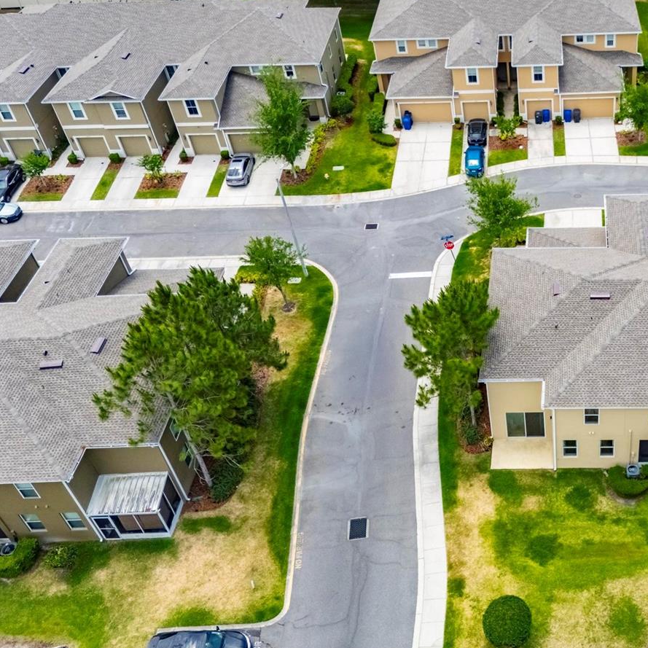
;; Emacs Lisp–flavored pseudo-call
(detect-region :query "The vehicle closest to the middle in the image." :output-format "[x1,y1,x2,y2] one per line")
[221,154,255,186]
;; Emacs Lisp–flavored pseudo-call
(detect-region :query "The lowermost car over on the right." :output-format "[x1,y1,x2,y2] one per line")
[462,142,486,173]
